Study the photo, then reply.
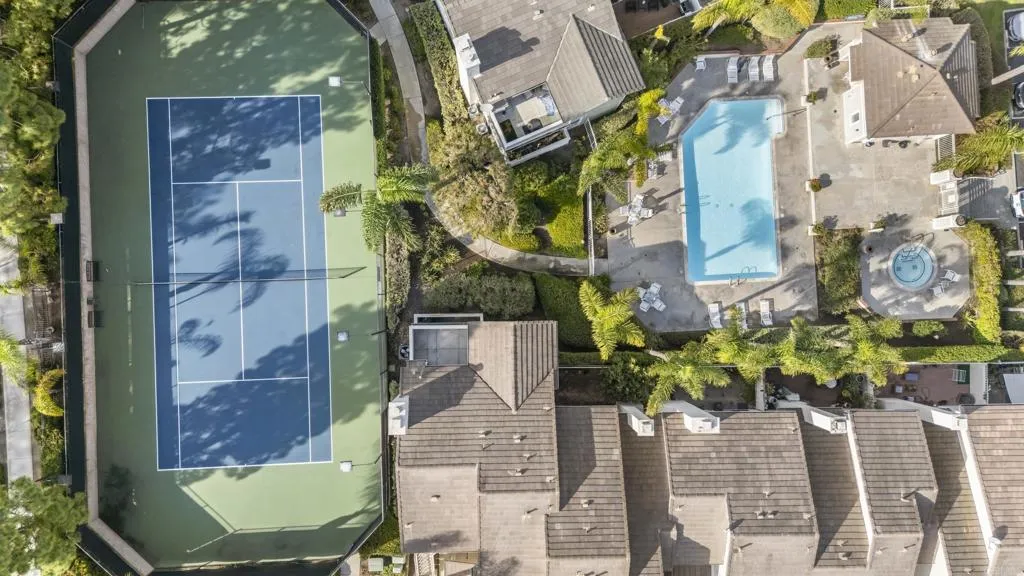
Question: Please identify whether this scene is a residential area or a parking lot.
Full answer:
The picture captures a residential area.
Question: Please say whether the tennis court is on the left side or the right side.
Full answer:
It is on the left.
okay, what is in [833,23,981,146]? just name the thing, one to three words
house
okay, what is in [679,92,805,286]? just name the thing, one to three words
swimming pool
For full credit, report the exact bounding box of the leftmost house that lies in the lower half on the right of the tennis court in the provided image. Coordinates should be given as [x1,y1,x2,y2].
[388,312,559,576]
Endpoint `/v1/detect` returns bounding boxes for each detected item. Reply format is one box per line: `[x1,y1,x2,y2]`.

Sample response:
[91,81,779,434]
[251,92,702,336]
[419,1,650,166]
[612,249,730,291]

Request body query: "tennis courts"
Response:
[86,0,392,571]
